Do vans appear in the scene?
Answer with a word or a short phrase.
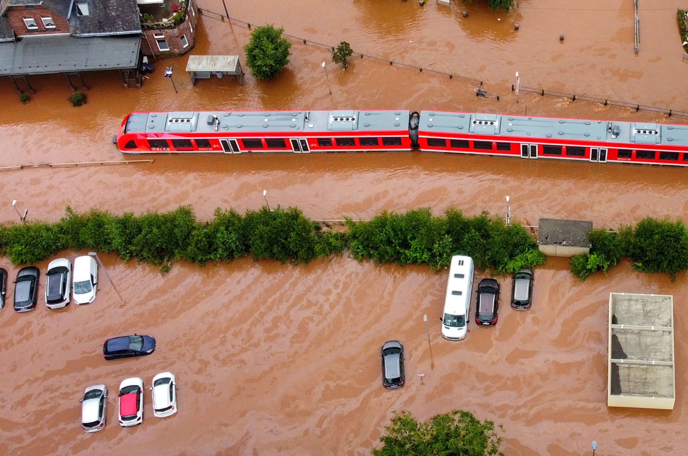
Yes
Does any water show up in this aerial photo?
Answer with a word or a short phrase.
Yes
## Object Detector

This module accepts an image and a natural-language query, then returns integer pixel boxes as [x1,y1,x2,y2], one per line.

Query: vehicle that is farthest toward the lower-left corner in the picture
[79,387,110,432]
